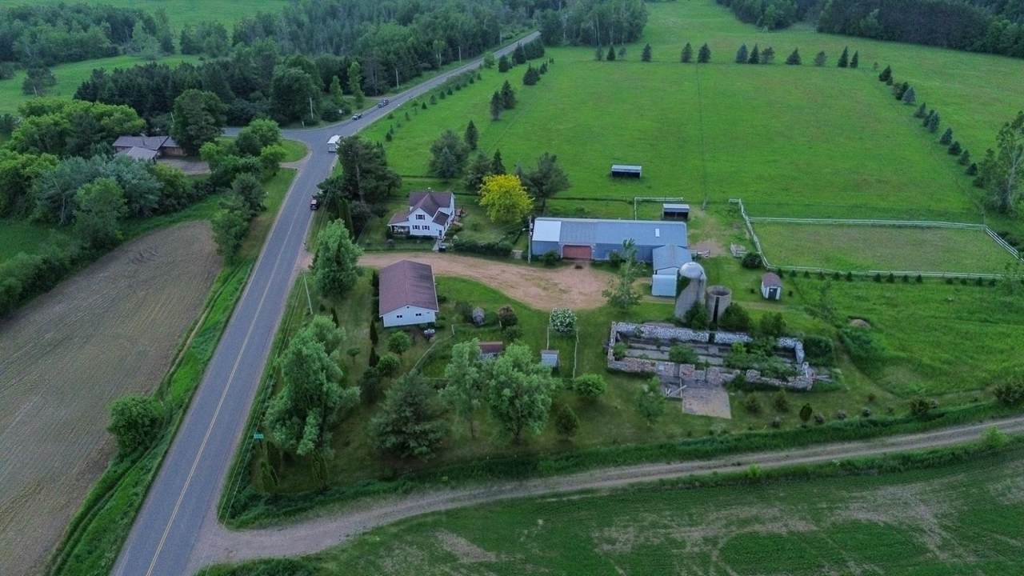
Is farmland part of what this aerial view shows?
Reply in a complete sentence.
Yes, farmland shows up in the scene.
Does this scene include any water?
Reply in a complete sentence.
No, the picture contains no water.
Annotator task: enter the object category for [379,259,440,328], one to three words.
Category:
building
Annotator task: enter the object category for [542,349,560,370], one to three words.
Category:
shed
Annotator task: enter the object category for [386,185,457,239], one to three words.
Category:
house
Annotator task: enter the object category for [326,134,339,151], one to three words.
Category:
vehicle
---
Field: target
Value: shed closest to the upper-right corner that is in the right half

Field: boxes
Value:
[757,272,785,300]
